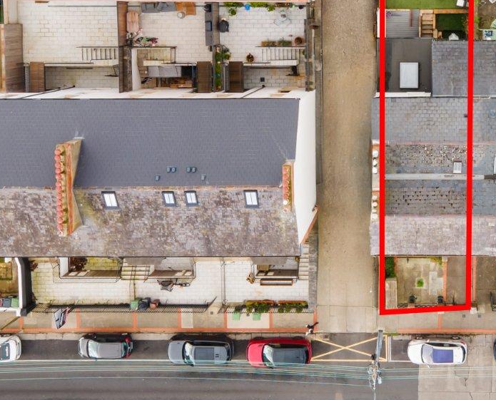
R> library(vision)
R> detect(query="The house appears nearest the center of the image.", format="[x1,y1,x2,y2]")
[171,87,318,257]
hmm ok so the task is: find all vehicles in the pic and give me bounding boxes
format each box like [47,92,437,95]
[167,334,234,371]
[249,335,312,371]
[409,336,468,369]
[0,334,20,363]
[76,333,133,364]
